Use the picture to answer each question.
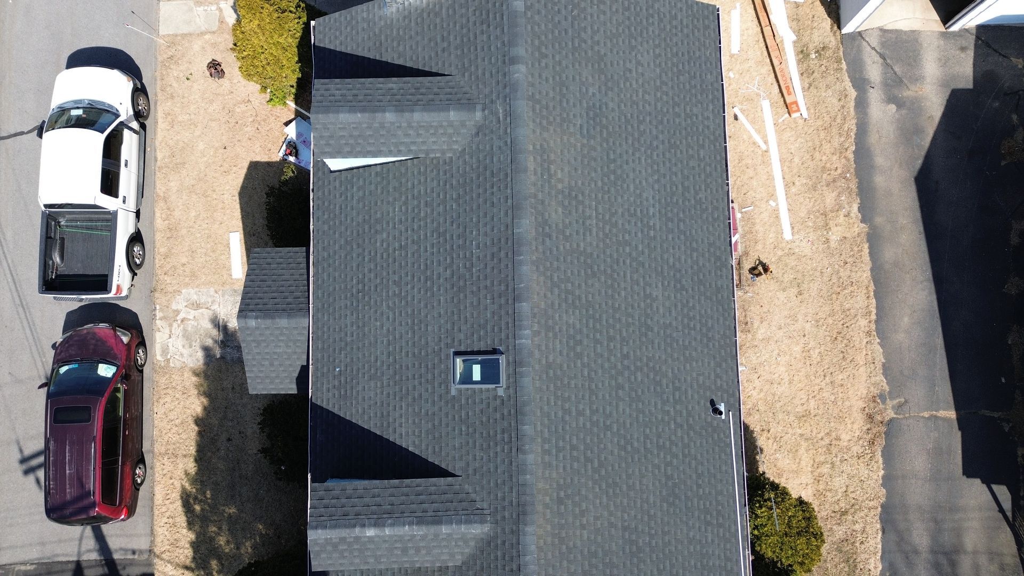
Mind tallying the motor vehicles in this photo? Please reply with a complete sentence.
In total, there are 2 motor vehicles in the scene.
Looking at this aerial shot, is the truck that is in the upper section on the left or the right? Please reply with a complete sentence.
You can find the truck that is in the upper section on the left side of the picture.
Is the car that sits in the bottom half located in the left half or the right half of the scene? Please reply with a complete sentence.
You can find the car that sits in the bottom half on the left side of the picture.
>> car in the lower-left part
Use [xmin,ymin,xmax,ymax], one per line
[38,322,149,527]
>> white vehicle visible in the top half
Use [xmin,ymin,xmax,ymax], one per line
[30,64,150,307]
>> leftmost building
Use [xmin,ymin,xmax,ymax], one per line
[236,0,755,576]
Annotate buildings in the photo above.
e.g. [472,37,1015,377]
[236,0,755,576]
[839,0,1024,33]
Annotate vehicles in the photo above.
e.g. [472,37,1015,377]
[30,64,150,307]
[38,322,149,527]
